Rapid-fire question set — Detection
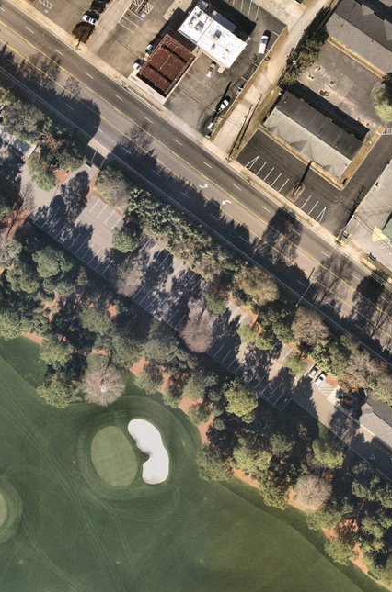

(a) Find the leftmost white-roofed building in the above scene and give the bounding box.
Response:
[179,0,260,68]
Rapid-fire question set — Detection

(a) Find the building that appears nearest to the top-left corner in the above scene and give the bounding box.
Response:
[140,33,195,91]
